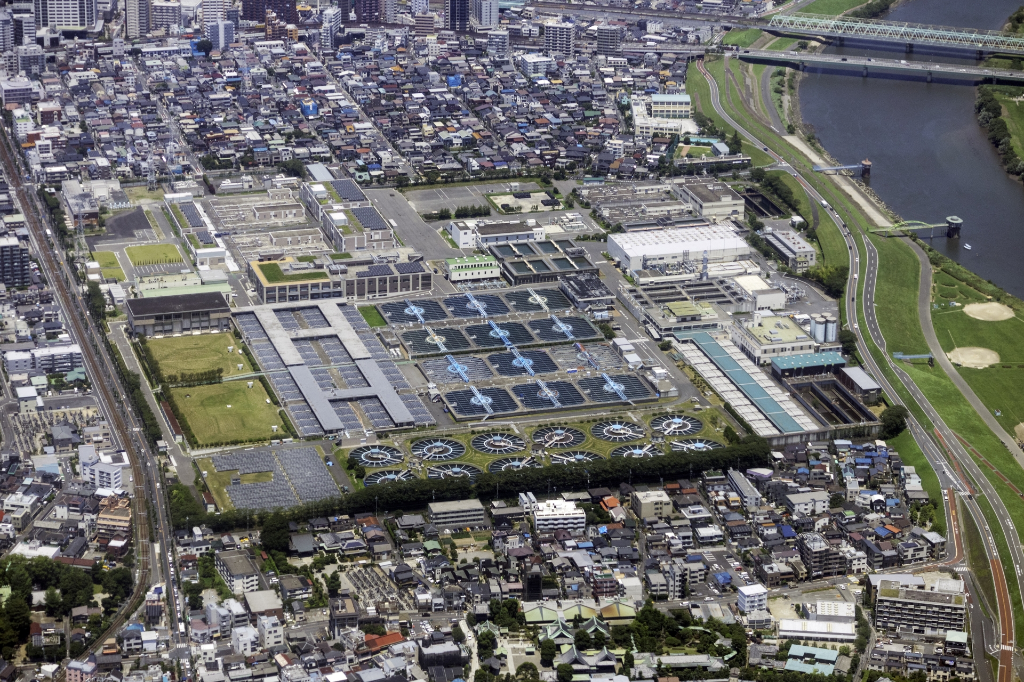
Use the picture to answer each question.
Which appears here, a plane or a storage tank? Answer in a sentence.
The one in the frame is a storage tank.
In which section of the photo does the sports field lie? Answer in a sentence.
The sports field appears toward the right of the photo.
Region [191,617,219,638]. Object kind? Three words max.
house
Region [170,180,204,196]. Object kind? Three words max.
shed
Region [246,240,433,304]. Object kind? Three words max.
building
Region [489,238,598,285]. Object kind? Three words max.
water tank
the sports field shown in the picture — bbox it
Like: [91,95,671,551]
[931,269,1024,450]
